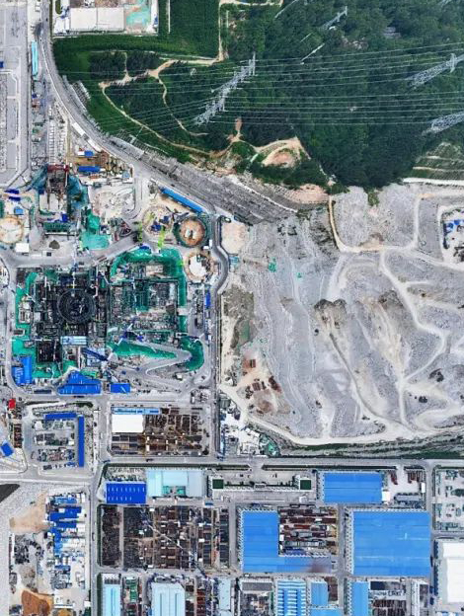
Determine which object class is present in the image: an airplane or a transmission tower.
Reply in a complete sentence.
I can see a transmission tower in this picture.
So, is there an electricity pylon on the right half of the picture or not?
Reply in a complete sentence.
Yes, you'll find an electricity pylon on the right half of the picture.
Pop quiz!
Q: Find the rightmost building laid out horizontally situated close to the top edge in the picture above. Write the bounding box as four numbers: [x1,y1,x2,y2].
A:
[70,8,124,32]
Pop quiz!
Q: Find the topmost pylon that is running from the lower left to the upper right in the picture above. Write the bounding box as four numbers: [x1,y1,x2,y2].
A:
[323,5,347,31]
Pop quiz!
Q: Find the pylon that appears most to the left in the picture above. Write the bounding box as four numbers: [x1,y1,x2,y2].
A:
[190,89,225,129]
